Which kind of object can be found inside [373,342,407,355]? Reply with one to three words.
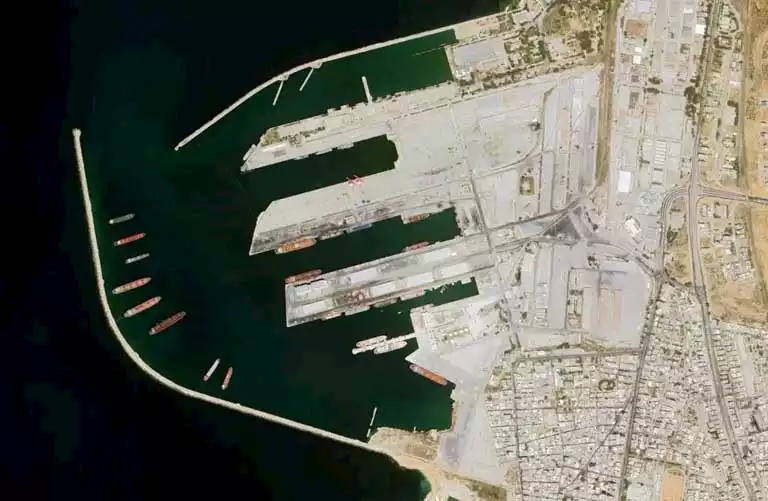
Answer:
ship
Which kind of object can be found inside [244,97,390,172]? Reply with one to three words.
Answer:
pier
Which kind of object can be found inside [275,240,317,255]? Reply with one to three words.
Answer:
ship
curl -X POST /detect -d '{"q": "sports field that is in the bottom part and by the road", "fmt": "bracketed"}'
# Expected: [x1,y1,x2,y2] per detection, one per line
[658,470,682,501]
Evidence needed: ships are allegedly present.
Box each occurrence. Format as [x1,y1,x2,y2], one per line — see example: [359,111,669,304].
[148,311,186,335]
[373,342,407,355]
[337,144,354,152]
[275,240,317,255]
[346,224,372,233]
[204,359,219,380]
[222,368,232,389]
[112,277,152,293]
[405,242,430,252]
[403,213,430,223]
[125,254,149,262]
[412,304,433,312]
[320,232,344,240]
[356,335,387,346]
[410,364,447,385]
[284,269,321,283]
[114,233,146,244]
[110,214,135,223]
[400,291,426,301]
[374,299,398,308]
[344,307,370,316]
[123,296,162,317]
[323,314,342,322]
